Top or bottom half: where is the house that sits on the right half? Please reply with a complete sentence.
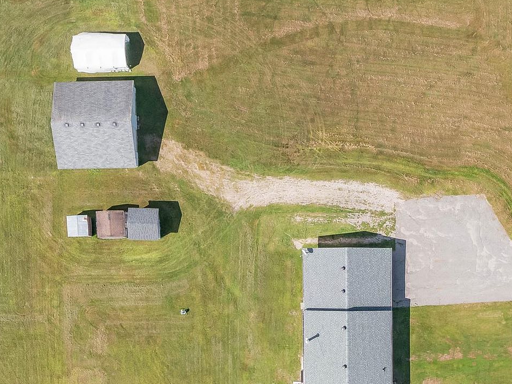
The house that sits on the right half sits in the bottom half of the picture.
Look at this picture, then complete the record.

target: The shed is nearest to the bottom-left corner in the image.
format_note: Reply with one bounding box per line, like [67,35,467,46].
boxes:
[67,216,91,237]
